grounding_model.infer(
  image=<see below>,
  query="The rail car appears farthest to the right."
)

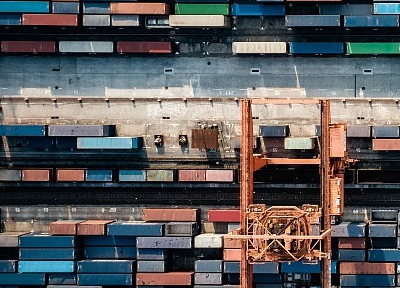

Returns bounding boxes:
[358,166,400,182]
